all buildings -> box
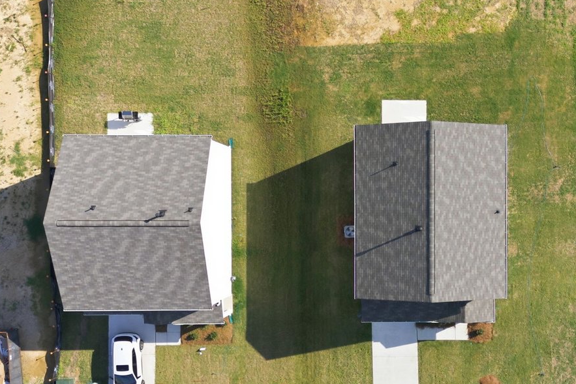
[353,120,509,324]
[43,132,232,325]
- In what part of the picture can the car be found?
bottom left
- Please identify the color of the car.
white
